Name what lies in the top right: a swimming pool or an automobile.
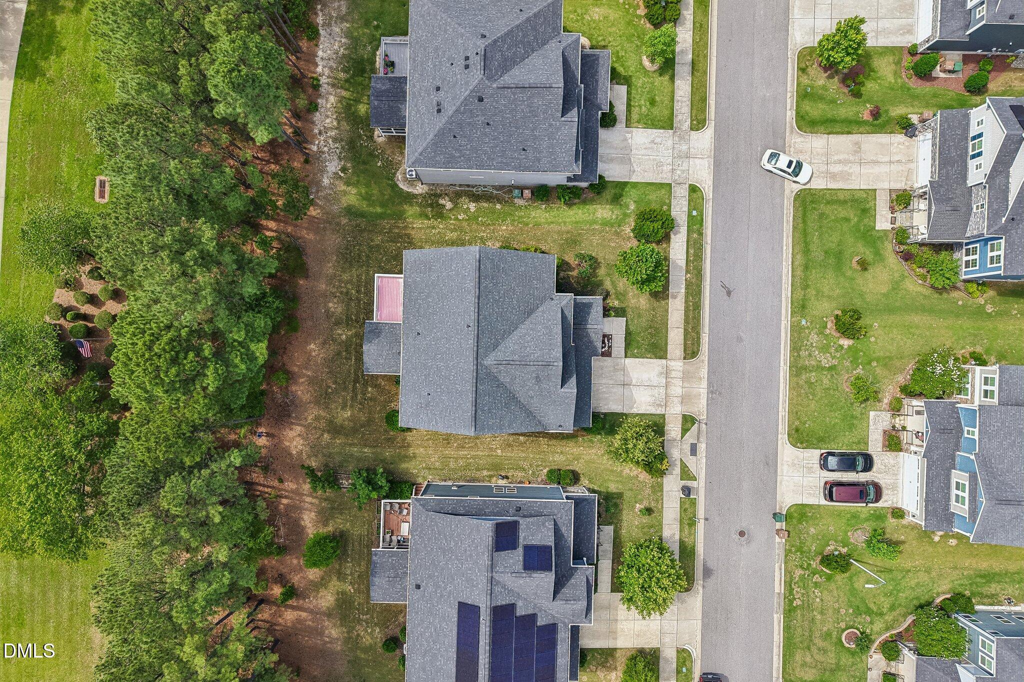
automobile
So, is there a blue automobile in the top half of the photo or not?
No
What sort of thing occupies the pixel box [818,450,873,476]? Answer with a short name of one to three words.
car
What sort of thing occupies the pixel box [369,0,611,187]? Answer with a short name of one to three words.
house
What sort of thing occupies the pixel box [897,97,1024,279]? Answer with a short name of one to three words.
house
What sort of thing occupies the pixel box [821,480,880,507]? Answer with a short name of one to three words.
car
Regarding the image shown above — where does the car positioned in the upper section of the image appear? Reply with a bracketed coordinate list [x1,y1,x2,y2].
[758,147,814,187]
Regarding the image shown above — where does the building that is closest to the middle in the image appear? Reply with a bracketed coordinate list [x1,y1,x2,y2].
[363,246,603,435]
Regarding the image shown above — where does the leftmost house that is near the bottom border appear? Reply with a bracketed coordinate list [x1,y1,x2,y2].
[370,483,598,682]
